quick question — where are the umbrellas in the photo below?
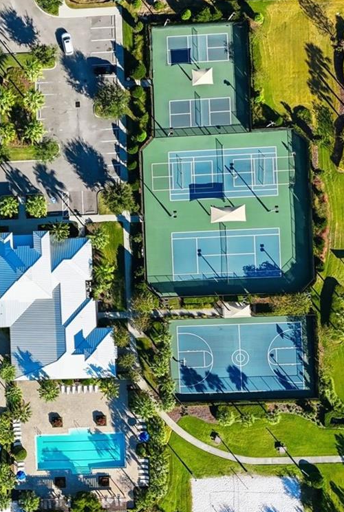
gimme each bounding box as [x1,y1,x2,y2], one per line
[141,433,152,444]
[17,473,27,484]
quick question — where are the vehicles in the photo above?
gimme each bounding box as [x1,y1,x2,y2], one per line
[94,63,116,74]
[61,31,74,55]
